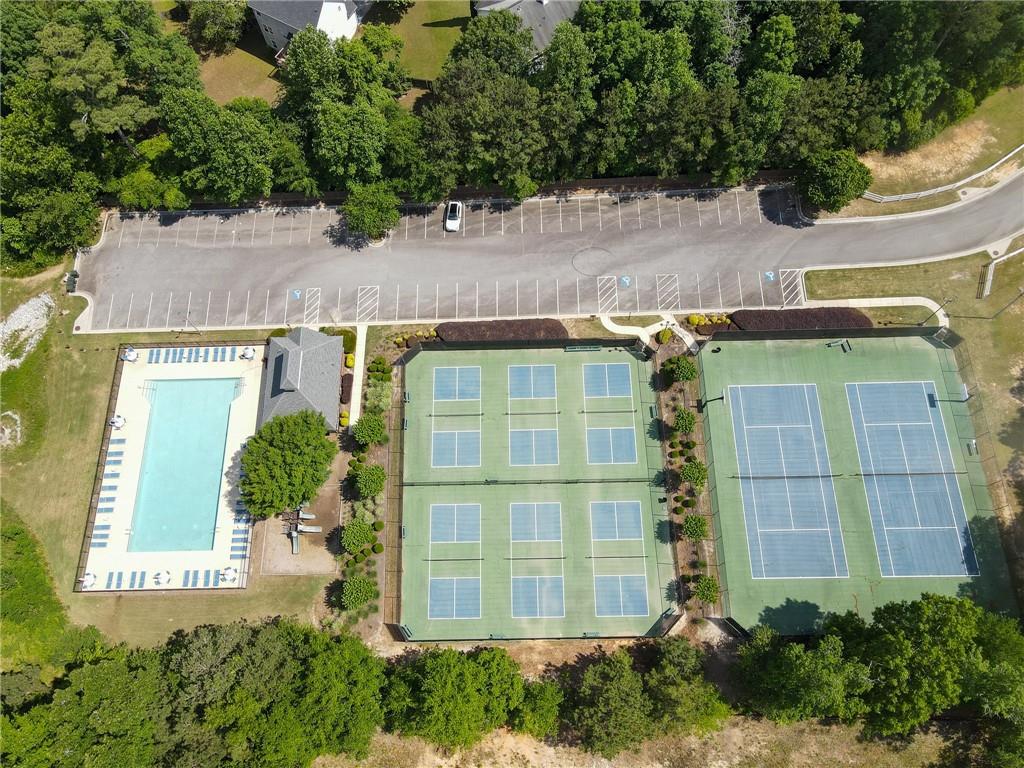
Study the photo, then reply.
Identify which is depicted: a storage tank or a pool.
pool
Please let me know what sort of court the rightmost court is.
tennis court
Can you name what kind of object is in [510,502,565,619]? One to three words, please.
sports court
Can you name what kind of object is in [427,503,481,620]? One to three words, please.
sports court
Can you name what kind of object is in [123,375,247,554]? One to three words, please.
swimming pool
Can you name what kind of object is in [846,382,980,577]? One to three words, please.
tennis court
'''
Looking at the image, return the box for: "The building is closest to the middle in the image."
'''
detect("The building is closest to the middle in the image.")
[260,327,345,434]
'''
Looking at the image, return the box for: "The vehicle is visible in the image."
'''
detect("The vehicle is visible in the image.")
[445,203,462,233]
